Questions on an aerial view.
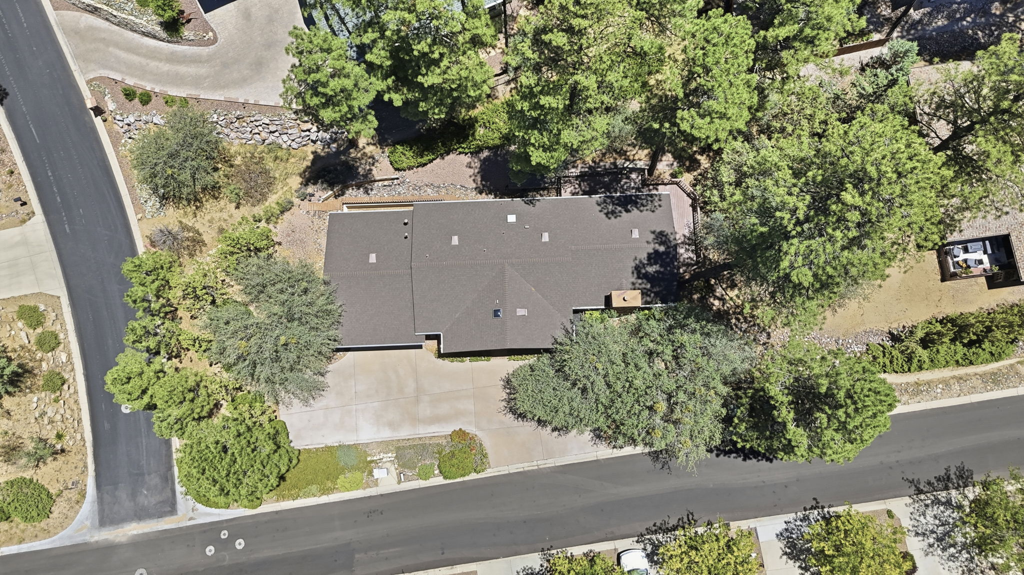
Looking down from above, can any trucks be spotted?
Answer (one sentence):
No, the scene contains no truck.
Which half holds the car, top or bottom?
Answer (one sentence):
The car is in the bottom half of the image.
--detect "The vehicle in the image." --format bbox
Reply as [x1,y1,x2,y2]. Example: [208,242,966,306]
[619,548,653,575]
